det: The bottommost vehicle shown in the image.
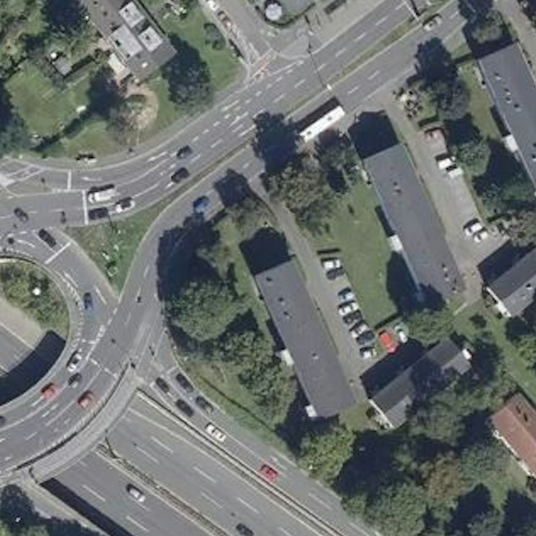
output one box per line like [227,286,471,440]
[235,523,255,536]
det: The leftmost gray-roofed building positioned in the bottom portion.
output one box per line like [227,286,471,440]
[251,259,358,421]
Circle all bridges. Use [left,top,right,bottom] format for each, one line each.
[1,328,141,499]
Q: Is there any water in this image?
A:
No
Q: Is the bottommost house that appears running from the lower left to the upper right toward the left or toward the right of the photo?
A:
right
